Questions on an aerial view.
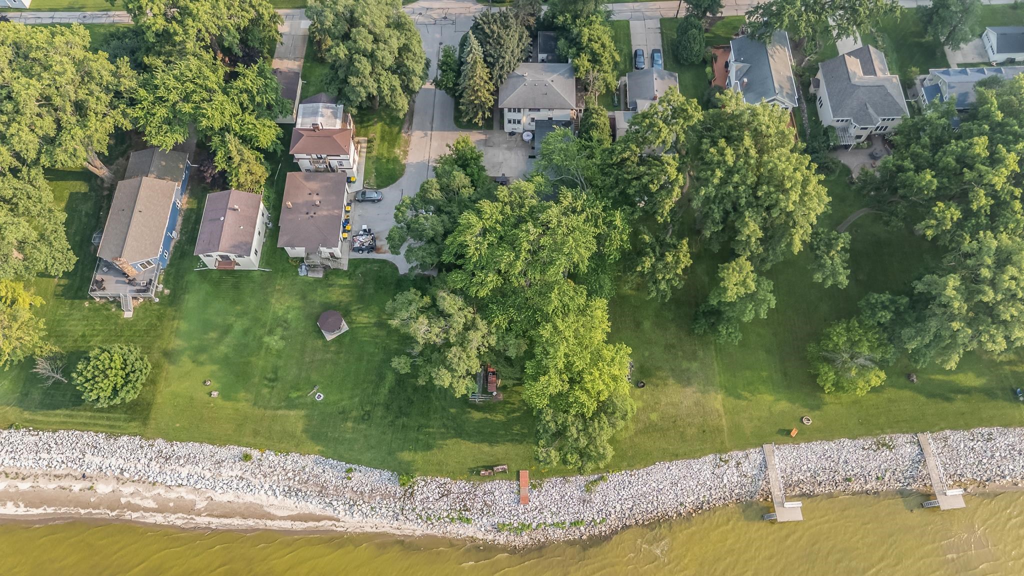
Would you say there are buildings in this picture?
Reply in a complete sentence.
Yes, the photo shows a building.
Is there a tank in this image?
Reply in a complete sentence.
No, I can't see a single tank in this photo.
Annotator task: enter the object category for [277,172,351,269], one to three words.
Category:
house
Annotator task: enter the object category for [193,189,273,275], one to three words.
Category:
house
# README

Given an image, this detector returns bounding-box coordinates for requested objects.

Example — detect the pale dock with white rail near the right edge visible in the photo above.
[916,430,966,512]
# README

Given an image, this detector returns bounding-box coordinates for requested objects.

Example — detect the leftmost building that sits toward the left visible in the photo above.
[97,147,206,274]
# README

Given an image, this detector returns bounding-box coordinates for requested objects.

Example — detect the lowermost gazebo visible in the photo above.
[315,311,349,345]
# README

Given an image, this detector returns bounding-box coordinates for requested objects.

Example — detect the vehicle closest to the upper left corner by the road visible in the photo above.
[353,188,383,202]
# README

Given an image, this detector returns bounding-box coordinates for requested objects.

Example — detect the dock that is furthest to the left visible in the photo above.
[757,440,802,523]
